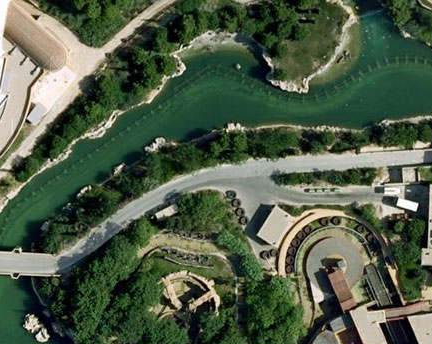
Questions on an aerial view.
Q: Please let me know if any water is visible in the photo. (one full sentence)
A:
Yes, some water is visible.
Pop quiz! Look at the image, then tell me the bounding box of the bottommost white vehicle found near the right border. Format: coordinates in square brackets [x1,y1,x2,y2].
[394,198,418,210]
